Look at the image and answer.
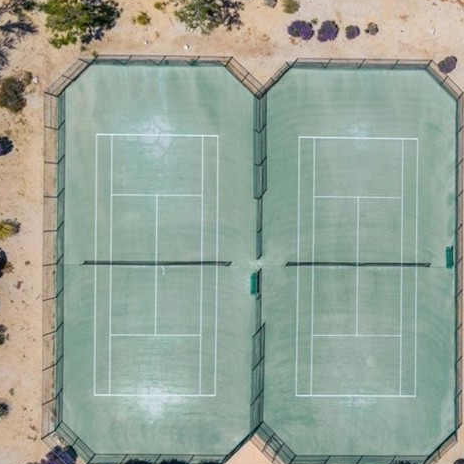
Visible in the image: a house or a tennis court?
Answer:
tennis court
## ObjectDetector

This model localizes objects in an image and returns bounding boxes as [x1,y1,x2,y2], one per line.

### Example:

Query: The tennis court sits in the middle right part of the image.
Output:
[256,63,456,464]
